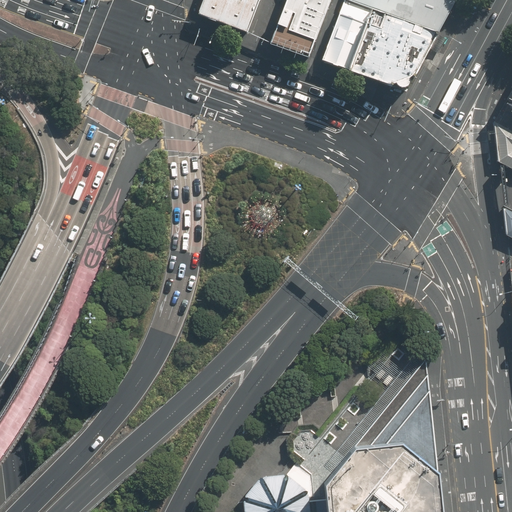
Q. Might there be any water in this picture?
No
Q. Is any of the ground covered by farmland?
No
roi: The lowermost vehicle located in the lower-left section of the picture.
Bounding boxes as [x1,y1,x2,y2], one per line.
[90,436,104,450]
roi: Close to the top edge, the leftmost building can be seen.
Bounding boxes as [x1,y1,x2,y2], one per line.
[199,0,262,33]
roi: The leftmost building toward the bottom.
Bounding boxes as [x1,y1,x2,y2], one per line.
[242,474,310,512]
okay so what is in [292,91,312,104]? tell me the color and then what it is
white vehicle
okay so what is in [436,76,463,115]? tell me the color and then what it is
white bus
